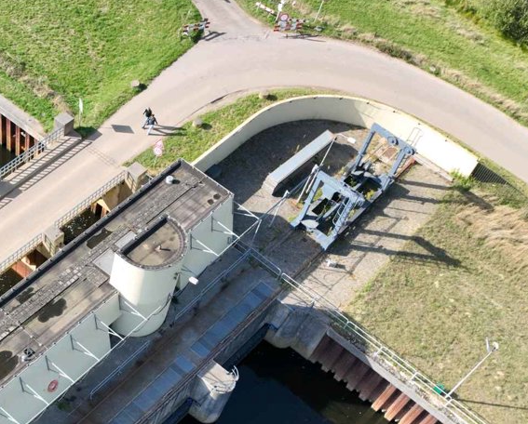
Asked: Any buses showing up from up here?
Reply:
No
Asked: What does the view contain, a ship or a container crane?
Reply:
container crane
